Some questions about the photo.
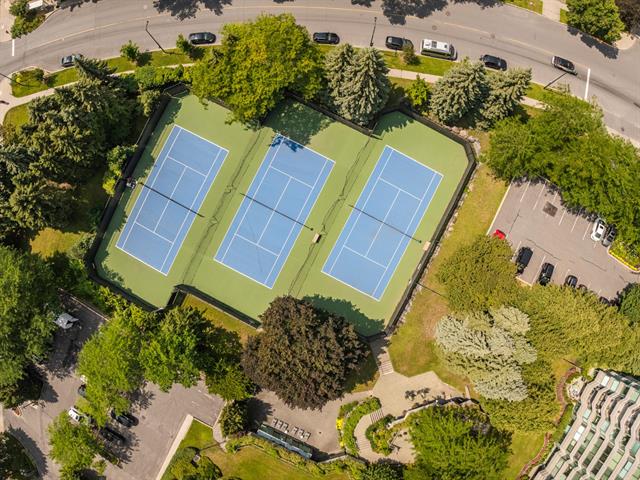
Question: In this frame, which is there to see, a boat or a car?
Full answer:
Visible in the photo is a car.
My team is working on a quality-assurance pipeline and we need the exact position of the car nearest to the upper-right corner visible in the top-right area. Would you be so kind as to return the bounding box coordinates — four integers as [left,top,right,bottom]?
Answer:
[549,55,579,75]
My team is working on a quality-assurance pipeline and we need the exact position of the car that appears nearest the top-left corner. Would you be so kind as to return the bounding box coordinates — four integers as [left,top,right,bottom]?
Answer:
[58,52,88,69]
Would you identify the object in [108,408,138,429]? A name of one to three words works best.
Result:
car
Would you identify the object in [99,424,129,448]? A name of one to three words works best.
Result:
car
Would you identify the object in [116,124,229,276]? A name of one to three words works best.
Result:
tennis court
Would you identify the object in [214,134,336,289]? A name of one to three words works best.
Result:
tennis court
